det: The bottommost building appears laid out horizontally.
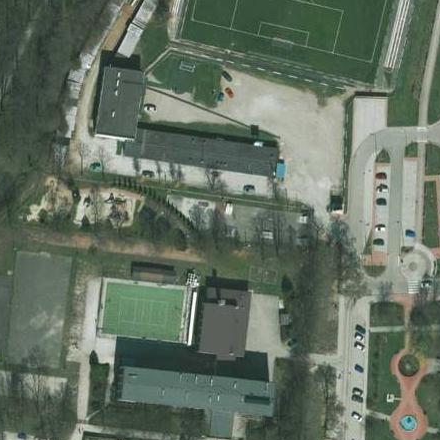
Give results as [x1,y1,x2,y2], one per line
[119,367,275,416]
